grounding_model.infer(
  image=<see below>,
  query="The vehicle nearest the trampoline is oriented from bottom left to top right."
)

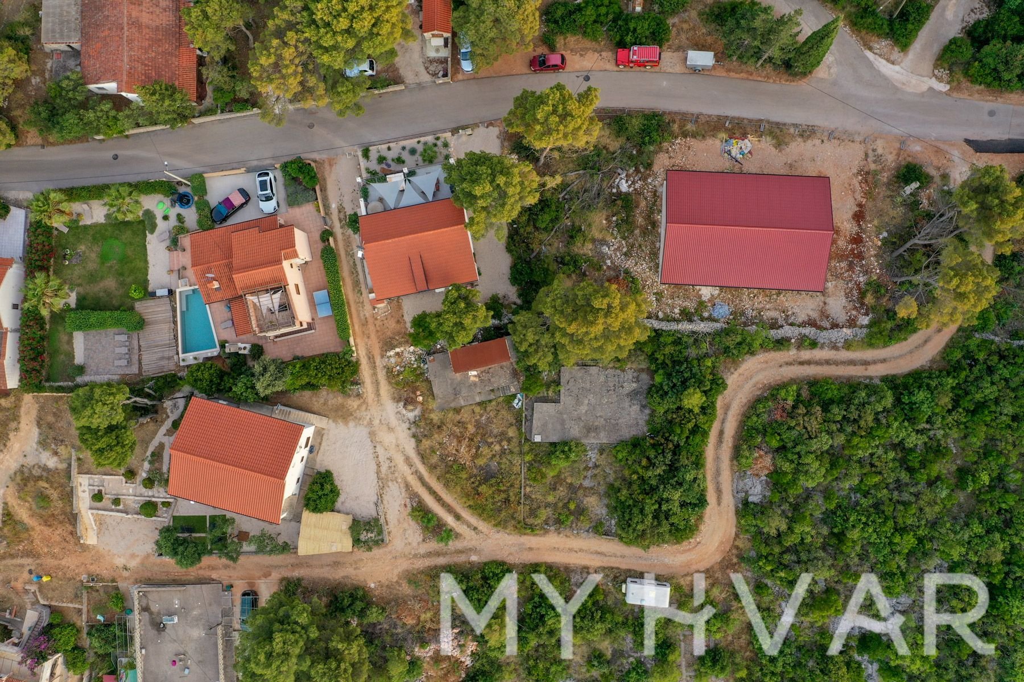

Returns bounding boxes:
[211,186,252,222]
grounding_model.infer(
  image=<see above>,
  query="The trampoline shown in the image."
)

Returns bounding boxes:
[173,191,195,210]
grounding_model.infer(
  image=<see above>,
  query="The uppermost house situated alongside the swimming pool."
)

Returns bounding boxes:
[190,214,312,336]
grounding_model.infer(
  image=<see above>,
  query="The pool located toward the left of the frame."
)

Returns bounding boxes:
[176,286,219,357]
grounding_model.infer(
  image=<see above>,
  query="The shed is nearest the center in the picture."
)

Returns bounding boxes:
[427,337,522,410]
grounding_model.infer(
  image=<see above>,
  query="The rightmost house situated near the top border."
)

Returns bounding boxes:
[422,0,452,42]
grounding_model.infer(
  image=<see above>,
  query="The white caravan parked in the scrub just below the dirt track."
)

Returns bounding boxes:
[617,575,670,607]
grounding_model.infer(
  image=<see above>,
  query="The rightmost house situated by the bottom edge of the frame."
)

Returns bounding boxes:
[131,581,235,682]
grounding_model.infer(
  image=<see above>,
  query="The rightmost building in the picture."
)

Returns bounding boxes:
[654,169,834,293]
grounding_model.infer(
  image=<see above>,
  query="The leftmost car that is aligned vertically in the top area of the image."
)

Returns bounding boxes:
[256,172,279,215]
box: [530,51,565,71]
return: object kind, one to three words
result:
car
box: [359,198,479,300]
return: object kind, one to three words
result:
house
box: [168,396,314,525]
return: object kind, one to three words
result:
house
